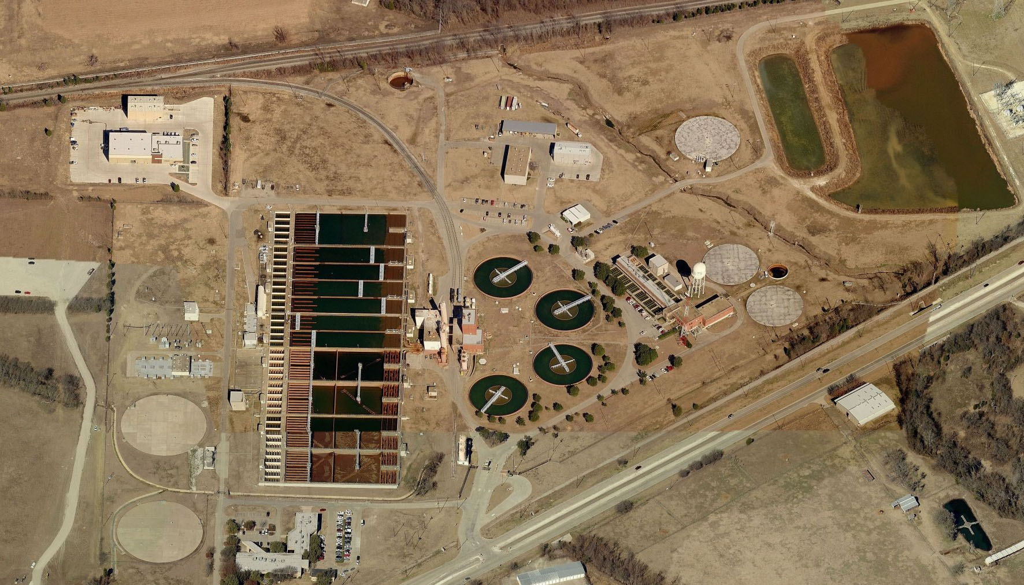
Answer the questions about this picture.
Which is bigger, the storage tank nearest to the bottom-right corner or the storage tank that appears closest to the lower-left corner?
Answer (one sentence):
The storage tank that appears closest to the lower-left corner takes up more space than the storage tank nearest to the bottom-right corner.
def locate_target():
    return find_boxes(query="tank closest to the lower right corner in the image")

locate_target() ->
[747,286,803,327]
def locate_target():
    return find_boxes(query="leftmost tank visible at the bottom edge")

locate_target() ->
[117,501,203,564]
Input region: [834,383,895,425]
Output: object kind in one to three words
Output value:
building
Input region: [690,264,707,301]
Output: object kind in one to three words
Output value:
water tower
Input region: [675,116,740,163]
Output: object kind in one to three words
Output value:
storage tank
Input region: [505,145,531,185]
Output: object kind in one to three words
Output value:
building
